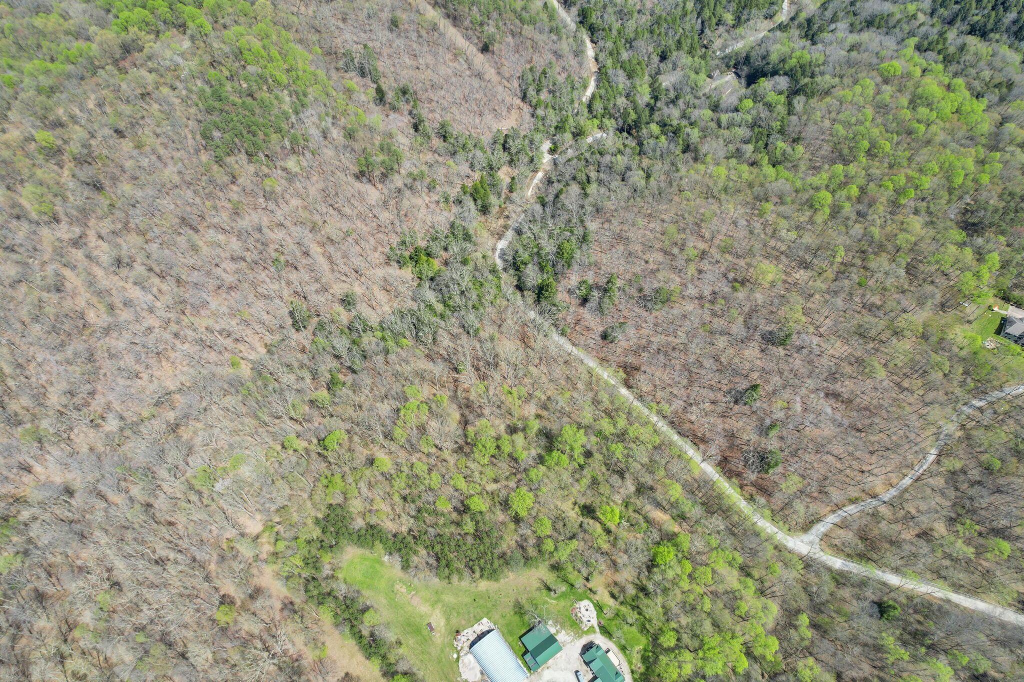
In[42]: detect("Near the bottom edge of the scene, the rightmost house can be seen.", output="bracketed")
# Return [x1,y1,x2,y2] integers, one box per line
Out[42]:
[583,643,629,682]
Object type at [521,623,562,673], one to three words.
barn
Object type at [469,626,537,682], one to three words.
shed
